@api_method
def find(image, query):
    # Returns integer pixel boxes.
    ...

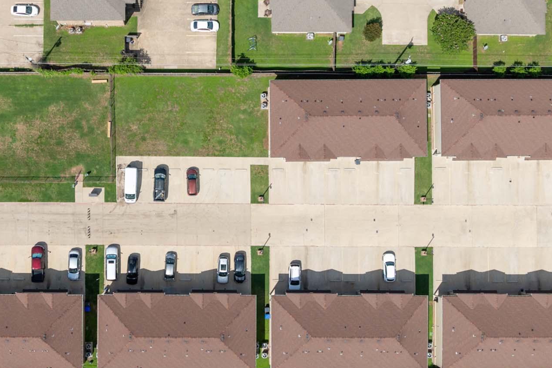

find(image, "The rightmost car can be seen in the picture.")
[382,253,396,281]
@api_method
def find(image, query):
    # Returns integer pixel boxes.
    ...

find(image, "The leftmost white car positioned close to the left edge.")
[11,2,39,16]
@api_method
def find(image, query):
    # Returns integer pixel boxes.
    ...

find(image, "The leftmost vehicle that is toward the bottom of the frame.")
[31,245,45,282]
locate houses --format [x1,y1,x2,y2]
[270,288,429,368]
[0,287,85,368]
[271,0,353,34]
[432,78,552,161]
[461,0,545,36]
[50,0,143,25]
[433,288,552,368]
[97,288,257,368]
[269,80,428,162]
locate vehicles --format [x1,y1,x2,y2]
[382,253,396,281]
[124,254,139,283]
[104,246,118,279]
[11,2,39,16]
[191,18,219,33]
[153,167,167,200]
[191,2,219,15]
[123,168,137,202]
[67,251,80,279]
[216,256,230,283]
[185,167,199,196]
[288,262,302,288]
[163,252,177,279]
[31,245,45,282]
[233,251,246,281]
